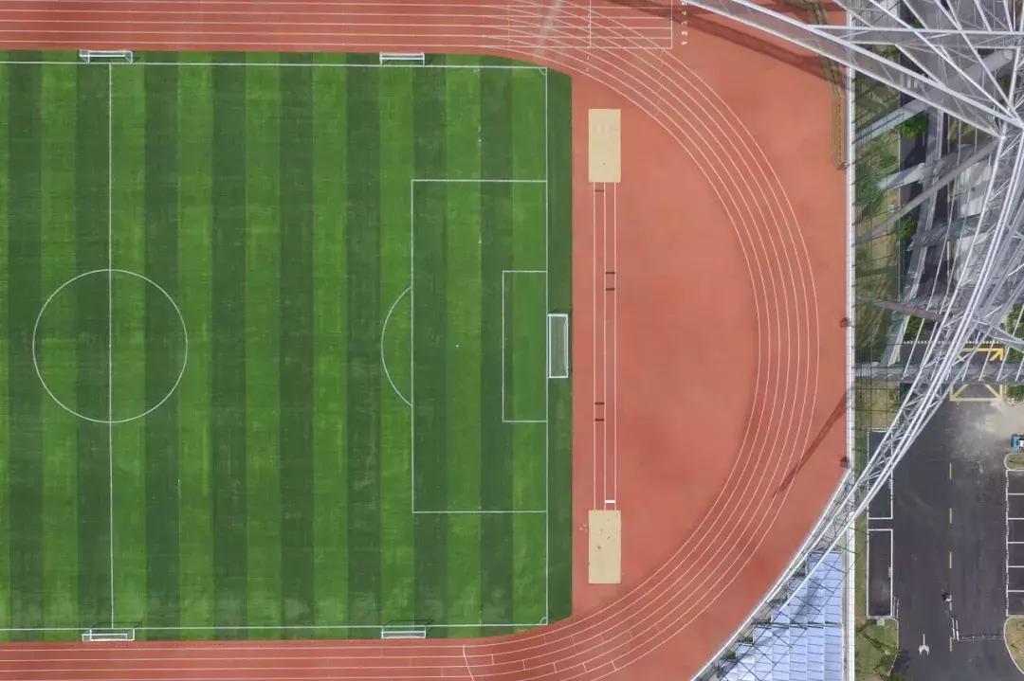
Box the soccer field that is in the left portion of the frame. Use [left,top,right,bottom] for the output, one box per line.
[0,49,571,641]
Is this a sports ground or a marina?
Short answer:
sports ground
